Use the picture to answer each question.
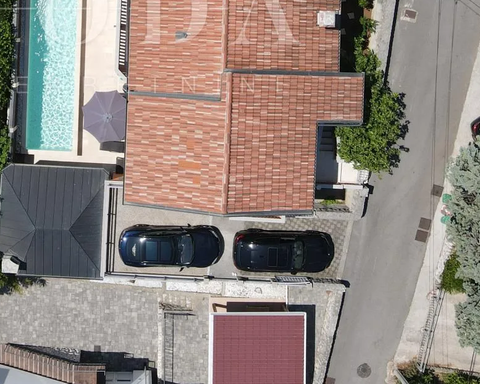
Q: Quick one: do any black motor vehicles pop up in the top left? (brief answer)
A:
No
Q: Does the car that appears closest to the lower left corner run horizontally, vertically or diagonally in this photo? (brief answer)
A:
horizontally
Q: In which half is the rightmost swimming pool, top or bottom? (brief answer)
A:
top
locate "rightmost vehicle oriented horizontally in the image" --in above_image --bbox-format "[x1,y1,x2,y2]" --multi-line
[232,227,335,278]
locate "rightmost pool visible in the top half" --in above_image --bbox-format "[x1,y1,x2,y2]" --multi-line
[26,0,82,157]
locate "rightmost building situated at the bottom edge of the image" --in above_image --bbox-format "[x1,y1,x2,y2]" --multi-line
[209,298,307,384]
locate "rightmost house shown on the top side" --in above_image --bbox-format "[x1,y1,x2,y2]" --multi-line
[117,0,366,217]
